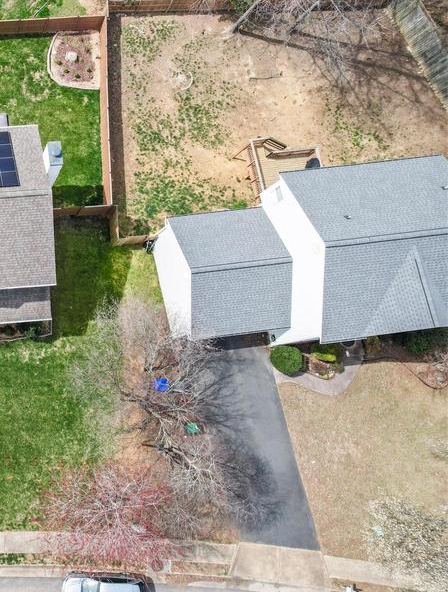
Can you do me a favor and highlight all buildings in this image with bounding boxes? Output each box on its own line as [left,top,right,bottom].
[154,153,448,369]
[0,123,61,325]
